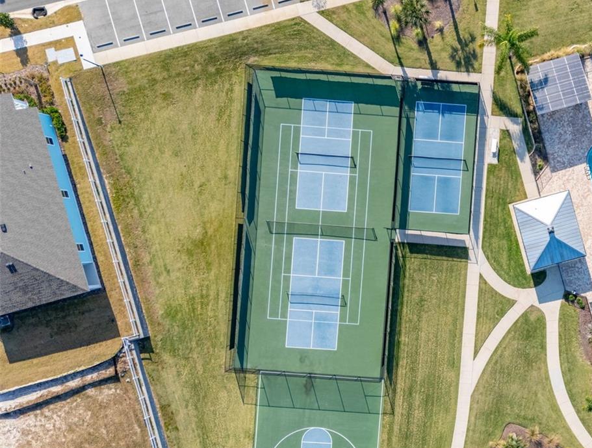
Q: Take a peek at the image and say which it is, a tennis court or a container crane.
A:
tennis court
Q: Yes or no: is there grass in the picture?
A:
Yes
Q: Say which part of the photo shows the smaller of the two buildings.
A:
right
